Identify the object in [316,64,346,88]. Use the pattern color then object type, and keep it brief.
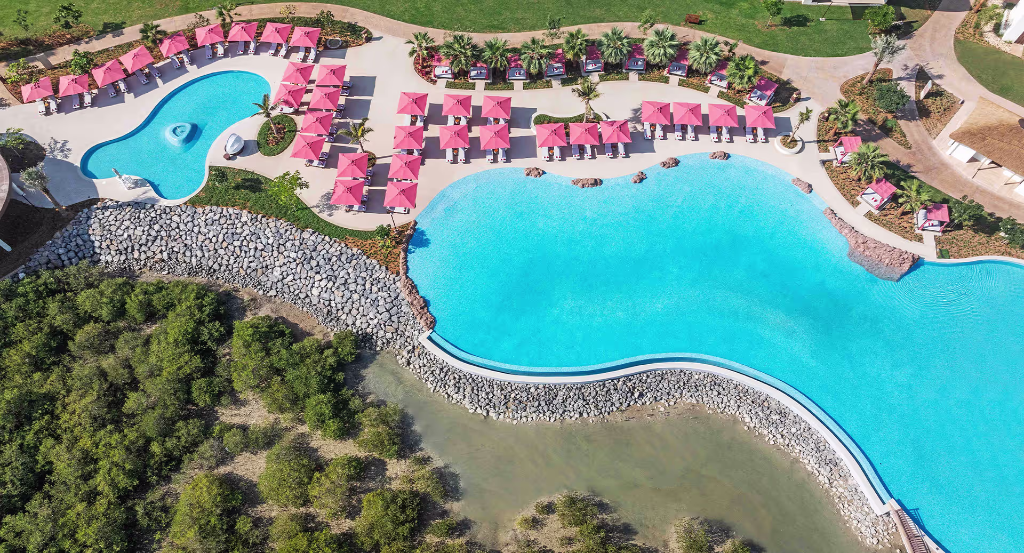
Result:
pink umbrella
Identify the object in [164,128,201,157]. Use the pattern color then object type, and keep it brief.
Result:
blue fountain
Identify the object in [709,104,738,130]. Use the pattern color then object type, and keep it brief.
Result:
pink umbrella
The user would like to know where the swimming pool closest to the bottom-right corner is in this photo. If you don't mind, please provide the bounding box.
[407,152,1024,553]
